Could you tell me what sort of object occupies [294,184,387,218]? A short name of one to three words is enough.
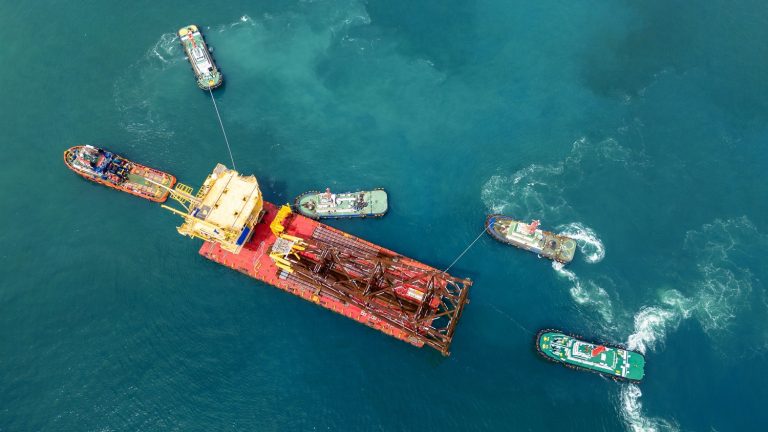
boat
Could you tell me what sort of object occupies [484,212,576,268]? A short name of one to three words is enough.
boat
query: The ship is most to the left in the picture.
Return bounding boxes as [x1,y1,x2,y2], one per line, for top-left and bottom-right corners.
[62,141,181,208]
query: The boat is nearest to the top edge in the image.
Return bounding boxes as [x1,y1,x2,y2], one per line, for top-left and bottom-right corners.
[176,23,220,91]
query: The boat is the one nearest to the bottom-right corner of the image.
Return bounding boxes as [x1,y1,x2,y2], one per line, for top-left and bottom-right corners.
[535,328,645,388]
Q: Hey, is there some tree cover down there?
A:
No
